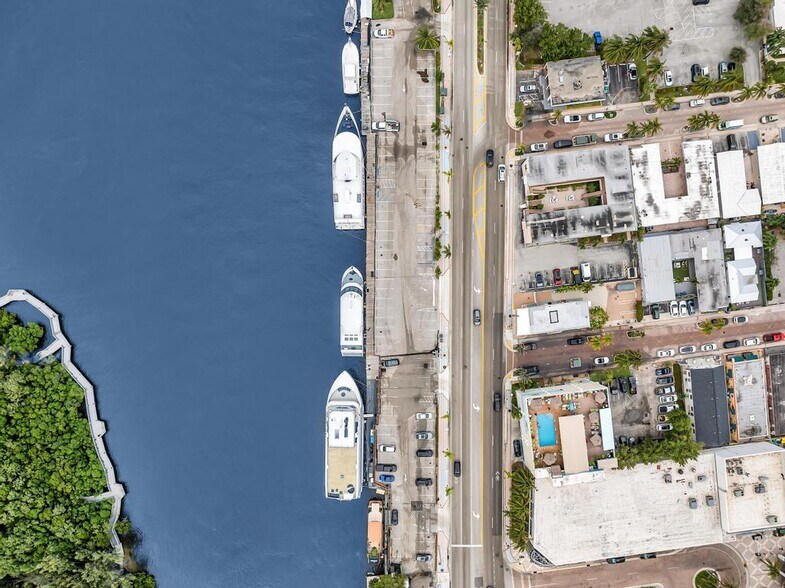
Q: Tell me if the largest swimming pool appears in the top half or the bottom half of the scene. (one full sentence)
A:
You can find the largest swimming pool in the bottom half.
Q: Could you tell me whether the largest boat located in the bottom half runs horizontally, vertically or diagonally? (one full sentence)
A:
The largest boat located in the bottom half is oriented vertically.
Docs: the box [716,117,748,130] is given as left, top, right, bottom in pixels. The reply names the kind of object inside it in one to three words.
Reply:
vehicle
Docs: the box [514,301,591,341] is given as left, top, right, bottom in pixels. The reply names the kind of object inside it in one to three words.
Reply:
building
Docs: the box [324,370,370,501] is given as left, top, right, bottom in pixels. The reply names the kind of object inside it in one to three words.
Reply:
boat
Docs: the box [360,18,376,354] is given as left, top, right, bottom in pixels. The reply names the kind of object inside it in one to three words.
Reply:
pier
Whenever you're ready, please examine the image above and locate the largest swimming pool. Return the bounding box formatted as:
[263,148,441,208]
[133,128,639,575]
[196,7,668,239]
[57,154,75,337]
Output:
[535,412,559,448]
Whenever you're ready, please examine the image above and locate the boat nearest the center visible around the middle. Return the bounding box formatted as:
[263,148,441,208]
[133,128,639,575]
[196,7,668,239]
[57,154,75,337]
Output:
[340,267,367,357]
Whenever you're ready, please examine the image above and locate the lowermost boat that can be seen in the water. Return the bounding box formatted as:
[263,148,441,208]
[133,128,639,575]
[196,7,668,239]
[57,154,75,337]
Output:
[368,500,383,563]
